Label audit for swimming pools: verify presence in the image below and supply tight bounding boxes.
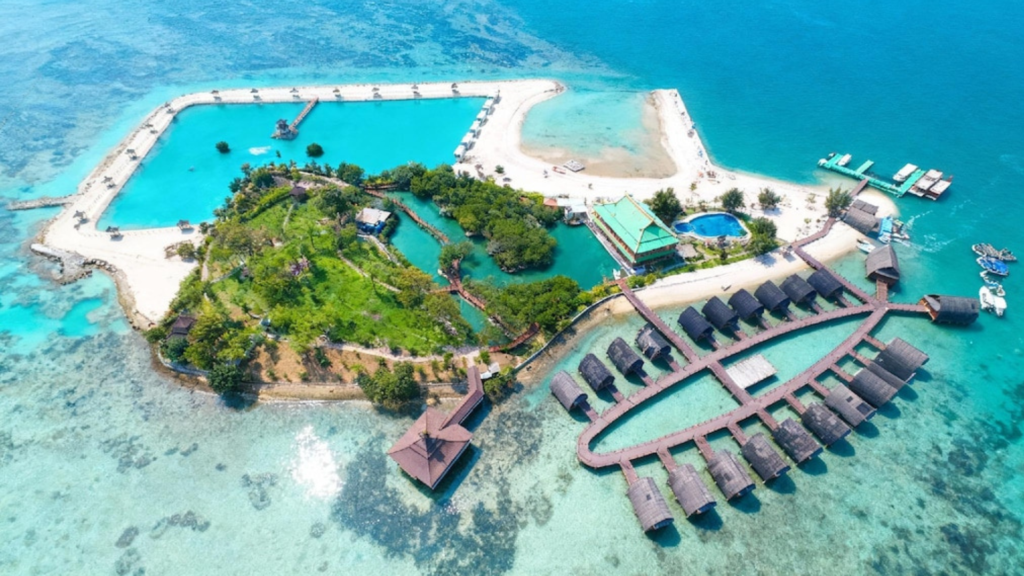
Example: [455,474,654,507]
[688,211,751,239]
[673,221,695,234]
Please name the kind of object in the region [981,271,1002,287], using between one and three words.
boat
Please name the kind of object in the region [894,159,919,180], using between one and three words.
boat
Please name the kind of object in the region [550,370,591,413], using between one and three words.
shed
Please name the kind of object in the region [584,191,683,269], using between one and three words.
building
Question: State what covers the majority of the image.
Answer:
water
